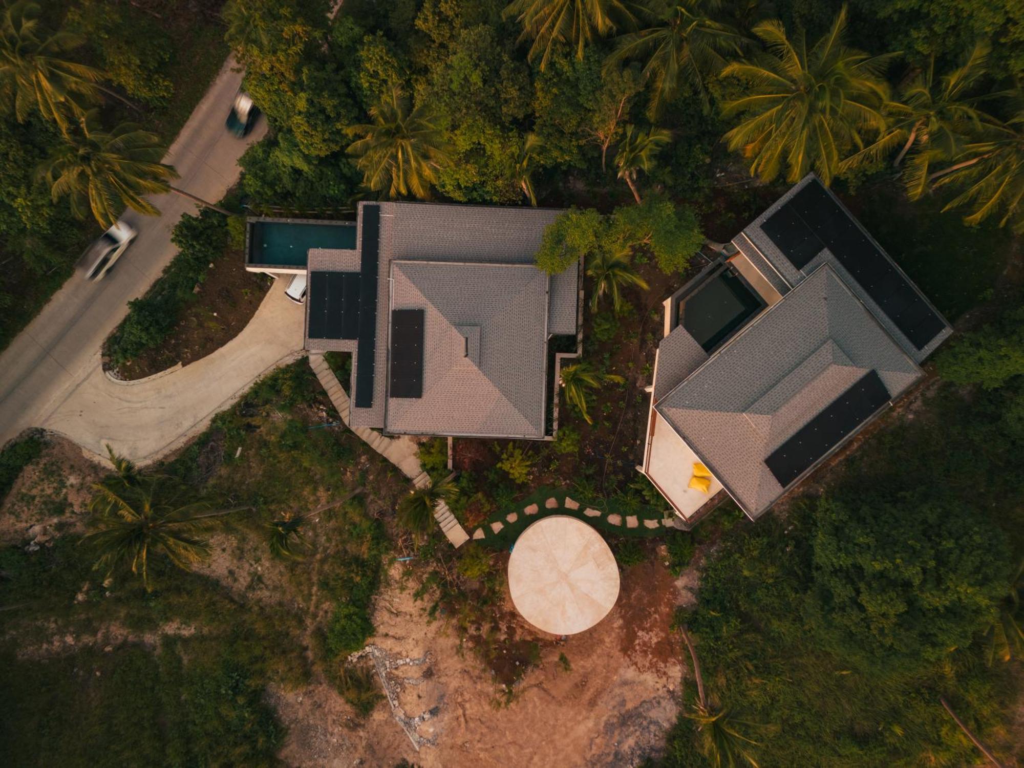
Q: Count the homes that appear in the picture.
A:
2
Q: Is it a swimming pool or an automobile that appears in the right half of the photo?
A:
swimming pool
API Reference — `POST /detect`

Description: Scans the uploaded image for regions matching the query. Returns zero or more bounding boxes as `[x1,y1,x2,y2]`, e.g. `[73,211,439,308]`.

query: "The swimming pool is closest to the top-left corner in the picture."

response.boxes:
[246,218,357,286]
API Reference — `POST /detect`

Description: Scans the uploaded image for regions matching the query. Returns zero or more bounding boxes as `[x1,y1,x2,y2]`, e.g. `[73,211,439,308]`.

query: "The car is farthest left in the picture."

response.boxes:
[76,223,136,285]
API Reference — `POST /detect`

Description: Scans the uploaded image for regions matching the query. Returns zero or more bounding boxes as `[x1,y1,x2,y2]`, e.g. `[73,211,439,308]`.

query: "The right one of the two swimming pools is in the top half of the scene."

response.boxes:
[661,258,769,356]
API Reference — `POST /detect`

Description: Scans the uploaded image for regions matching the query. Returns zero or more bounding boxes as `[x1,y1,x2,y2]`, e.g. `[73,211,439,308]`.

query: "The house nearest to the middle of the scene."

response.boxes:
[303,199,586,444]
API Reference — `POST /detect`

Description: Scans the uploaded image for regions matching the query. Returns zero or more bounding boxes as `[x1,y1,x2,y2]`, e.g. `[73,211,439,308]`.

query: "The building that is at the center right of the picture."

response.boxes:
[636,169,957,528]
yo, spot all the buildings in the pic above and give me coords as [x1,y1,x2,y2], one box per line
[636,169,957,528]
[303,199,586,444]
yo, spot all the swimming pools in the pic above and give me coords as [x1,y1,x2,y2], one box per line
[246,218,357,286]
[661,258,769,356]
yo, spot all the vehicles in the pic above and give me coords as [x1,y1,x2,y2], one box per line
[76,223,136,285]
[223,87,265,145]
[279,274,308,310]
